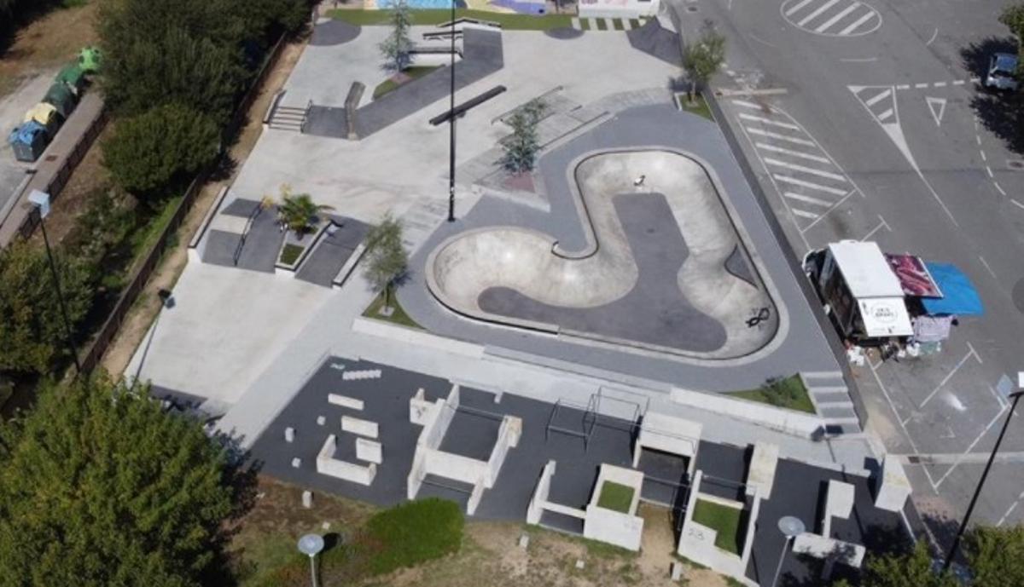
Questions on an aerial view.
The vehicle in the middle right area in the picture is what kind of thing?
truck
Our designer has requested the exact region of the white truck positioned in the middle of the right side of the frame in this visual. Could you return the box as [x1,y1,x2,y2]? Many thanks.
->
[811,242,913,350]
